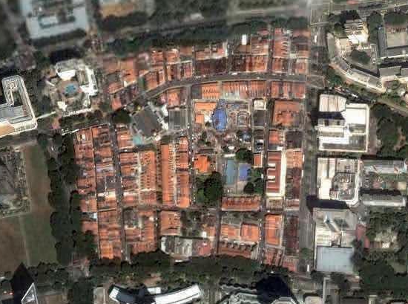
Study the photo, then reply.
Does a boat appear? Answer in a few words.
No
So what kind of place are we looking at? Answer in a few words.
residential area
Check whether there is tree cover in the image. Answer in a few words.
Yes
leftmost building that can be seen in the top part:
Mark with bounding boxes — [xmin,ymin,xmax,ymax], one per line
[0,76,41,132]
